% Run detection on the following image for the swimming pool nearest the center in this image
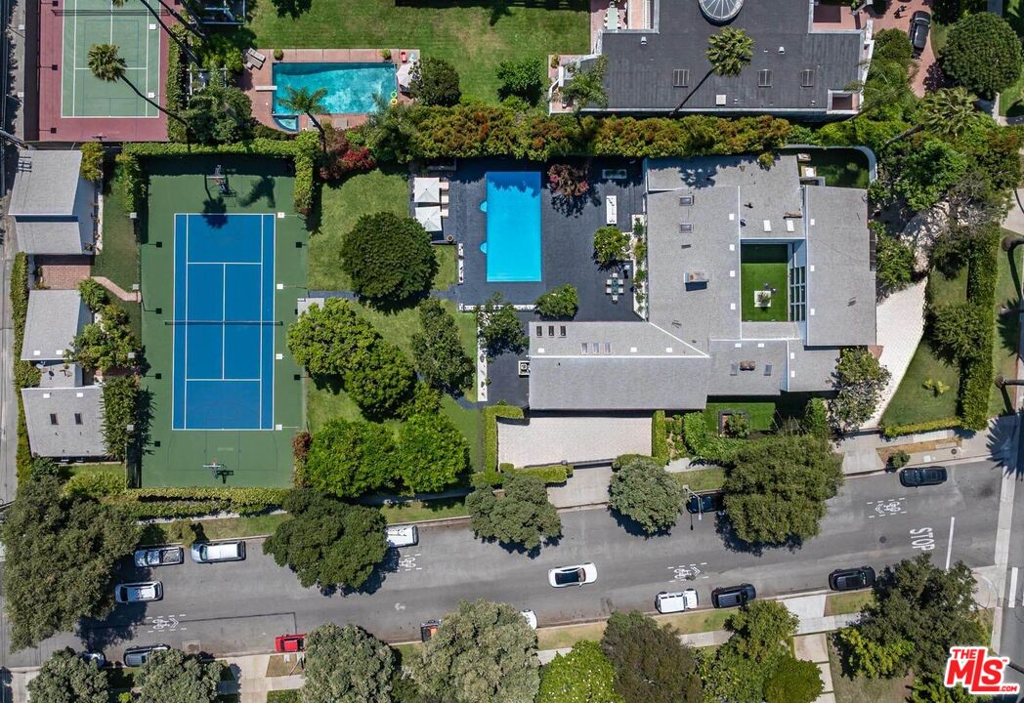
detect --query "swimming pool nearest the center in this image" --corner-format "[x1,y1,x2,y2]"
[480,171,542,283]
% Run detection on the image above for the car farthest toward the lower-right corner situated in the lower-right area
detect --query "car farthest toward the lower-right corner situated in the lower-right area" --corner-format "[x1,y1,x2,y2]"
[827,565,874,589]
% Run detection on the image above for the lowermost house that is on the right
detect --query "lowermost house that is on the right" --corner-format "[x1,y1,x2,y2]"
[528,156,877,410]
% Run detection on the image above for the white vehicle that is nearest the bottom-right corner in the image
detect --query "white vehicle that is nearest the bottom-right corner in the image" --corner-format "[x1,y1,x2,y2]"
[653,587,697,613]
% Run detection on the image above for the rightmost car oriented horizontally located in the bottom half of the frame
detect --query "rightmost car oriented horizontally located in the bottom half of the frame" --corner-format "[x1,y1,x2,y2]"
[898,464,948,488]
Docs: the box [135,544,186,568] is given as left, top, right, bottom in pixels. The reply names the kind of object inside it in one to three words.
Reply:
car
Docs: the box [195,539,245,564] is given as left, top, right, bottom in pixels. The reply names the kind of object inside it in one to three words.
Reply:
car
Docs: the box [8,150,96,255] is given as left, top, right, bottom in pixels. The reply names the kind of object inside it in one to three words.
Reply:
house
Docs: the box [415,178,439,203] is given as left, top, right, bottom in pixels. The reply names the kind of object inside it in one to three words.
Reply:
umbrella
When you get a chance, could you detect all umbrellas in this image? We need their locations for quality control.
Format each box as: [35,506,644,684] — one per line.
[416,206,442,231]
[390,62,413,85]
[415,178,439,203]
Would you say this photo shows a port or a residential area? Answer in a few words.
residential area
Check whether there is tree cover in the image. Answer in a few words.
Yes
